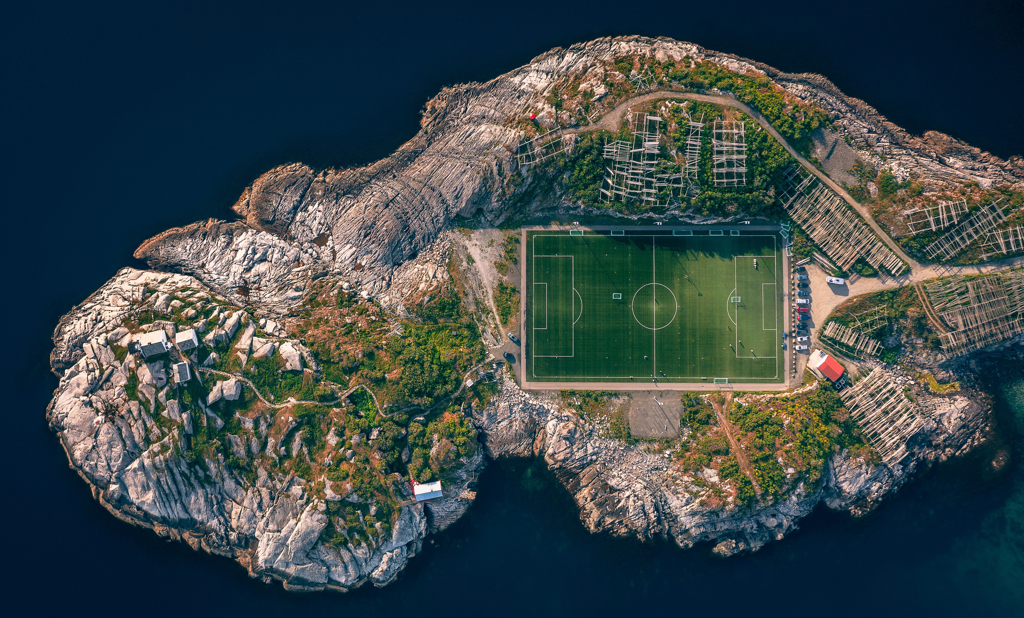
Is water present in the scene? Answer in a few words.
Yes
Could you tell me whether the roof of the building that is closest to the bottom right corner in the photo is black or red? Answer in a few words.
red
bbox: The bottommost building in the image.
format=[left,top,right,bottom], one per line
[413,480,444,501]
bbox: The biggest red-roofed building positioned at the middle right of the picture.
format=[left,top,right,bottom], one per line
[818,355,845,381]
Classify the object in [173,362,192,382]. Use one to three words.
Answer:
shed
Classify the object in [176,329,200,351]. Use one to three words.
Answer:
house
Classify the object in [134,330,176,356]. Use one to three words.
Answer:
house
